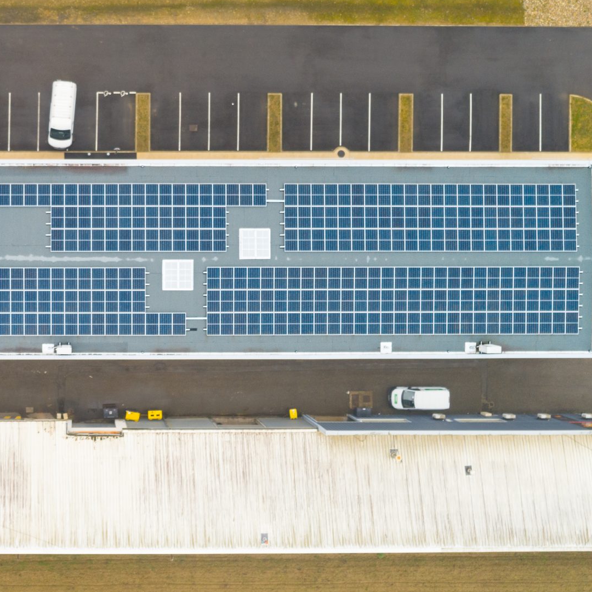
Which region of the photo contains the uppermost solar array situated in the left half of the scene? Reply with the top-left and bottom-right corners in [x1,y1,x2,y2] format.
[0,184,271,251]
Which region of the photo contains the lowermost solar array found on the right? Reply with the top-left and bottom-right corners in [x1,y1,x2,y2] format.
[203,267,583,335]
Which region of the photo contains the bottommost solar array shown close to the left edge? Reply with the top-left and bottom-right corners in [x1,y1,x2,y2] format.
[0,267,190,335]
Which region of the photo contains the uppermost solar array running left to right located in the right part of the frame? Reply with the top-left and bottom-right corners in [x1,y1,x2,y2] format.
[281,184,580,251]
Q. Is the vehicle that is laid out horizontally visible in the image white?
Yes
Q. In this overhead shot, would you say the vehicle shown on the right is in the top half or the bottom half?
bottom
